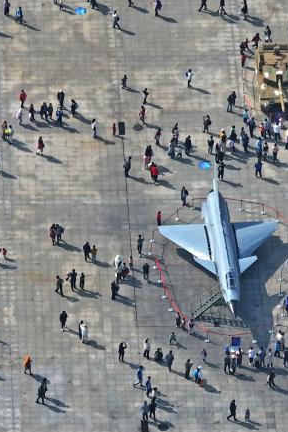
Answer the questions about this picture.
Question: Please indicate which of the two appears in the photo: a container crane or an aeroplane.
aeroplane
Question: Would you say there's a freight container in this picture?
No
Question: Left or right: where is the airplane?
right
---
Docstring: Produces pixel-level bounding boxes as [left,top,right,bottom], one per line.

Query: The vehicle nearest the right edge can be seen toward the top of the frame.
[255,38,288,112]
